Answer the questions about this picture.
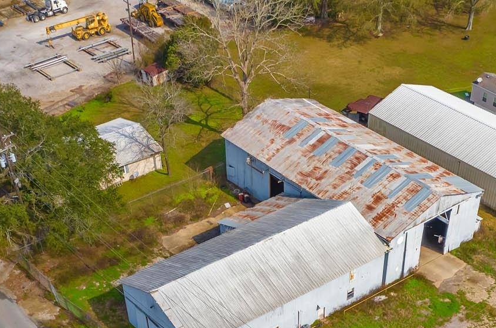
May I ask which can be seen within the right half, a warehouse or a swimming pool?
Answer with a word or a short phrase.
warehouse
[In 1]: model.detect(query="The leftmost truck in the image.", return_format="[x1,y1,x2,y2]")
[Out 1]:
[24,0,68,23]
